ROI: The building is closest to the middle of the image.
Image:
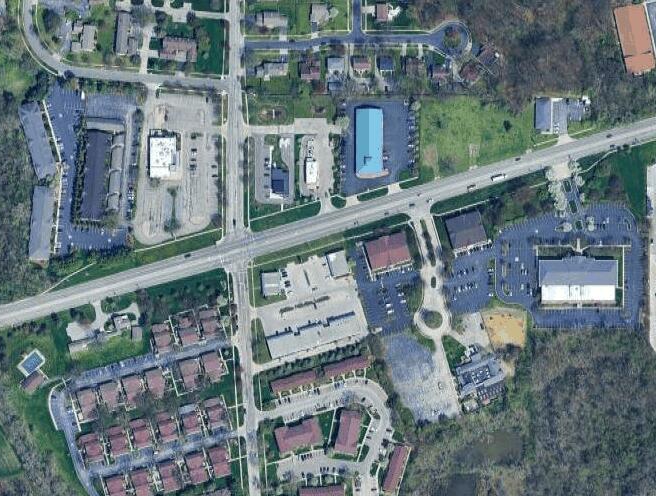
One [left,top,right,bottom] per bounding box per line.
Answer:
[328,251,351,278]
